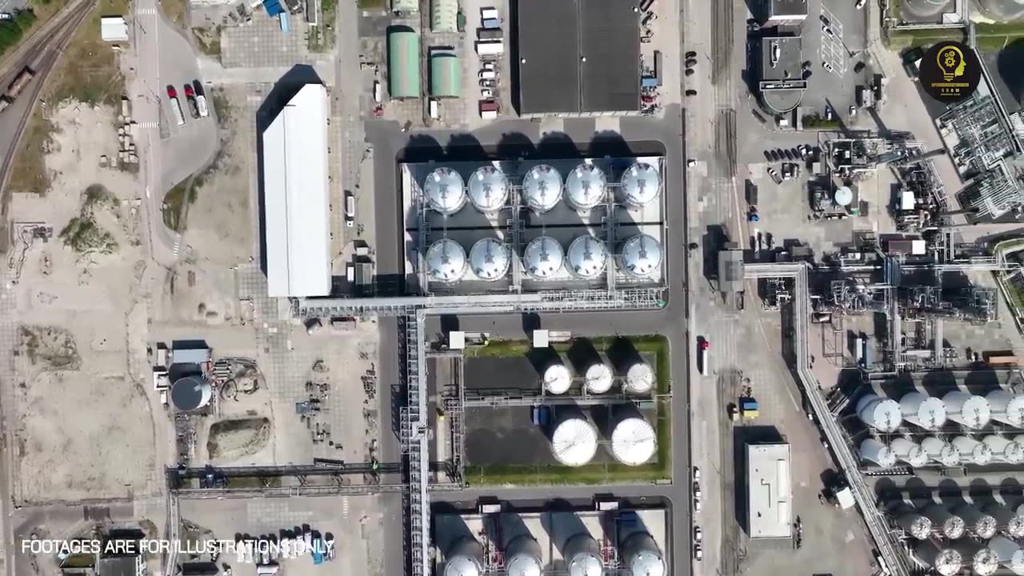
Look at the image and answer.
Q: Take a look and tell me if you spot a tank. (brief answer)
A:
Yes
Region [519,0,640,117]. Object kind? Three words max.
building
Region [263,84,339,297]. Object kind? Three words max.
building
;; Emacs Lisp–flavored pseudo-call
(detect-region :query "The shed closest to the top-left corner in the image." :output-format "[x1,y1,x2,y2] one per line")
[101,18,129,41]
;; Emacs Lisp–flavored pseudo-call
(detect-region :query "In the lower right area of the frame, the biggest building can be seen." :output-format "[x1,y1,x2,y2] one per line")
[743,440,791,538]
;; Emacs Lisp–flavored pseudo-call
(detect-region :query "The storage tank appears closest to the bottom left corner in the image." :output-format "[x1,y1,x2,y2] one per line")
[171,375,214,410]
